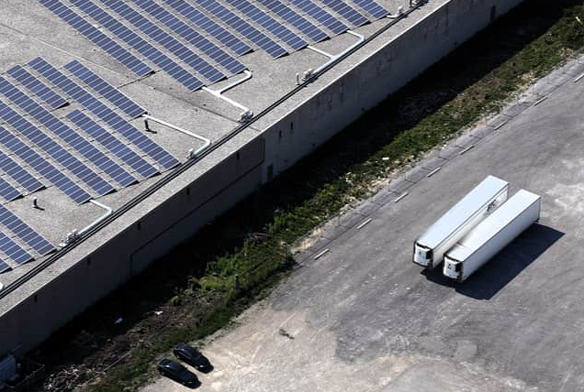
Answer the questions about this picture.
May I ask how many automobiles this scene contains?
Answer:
2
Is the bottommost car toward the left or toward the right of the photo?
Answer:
left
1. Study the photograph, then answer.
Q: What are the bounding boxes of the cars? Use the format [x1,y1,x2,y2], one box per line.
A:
[169,342,212,369]
[153,359,196,385]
